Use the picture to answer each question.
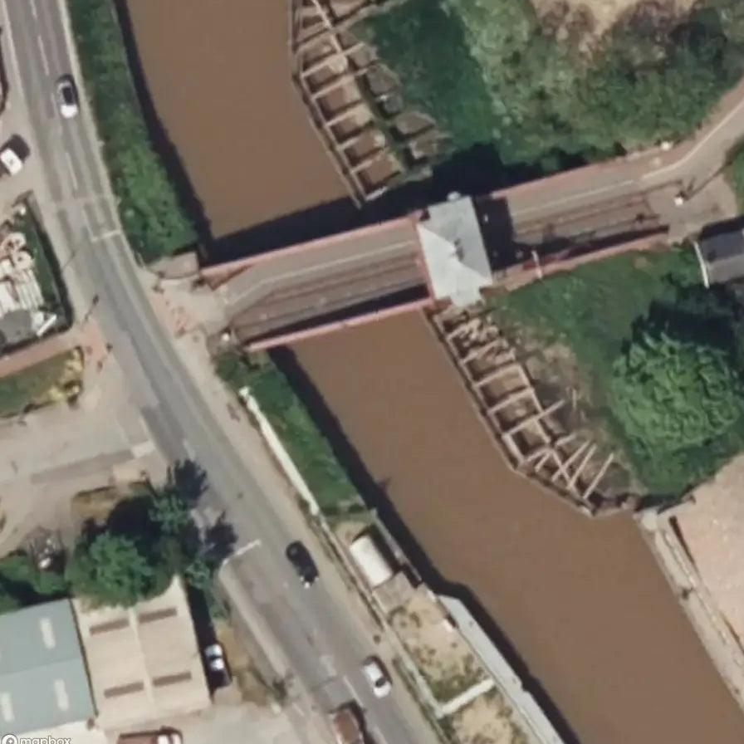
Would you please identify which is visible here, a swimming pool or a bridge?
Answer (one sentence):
The image shows a bridge.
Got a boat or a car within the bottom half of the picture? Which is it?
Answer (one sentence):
Looking within the bottom half of the picture, you will find a car.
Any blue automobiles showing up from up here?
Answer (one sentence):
No, the photo shows no blue automobile.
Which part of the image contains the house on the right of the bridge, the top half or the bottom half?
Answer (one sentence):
You can find the house on the right of the bridge in the top half.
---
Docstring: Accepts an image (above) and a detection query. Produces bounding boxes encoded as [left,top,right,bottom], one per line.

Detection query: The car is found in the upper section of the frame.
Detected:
[55,76,77,120]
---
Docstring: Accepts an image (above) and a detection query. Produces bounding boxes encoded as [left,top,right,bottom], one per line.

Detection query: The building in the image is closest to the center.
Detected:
[349,535,393,587]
